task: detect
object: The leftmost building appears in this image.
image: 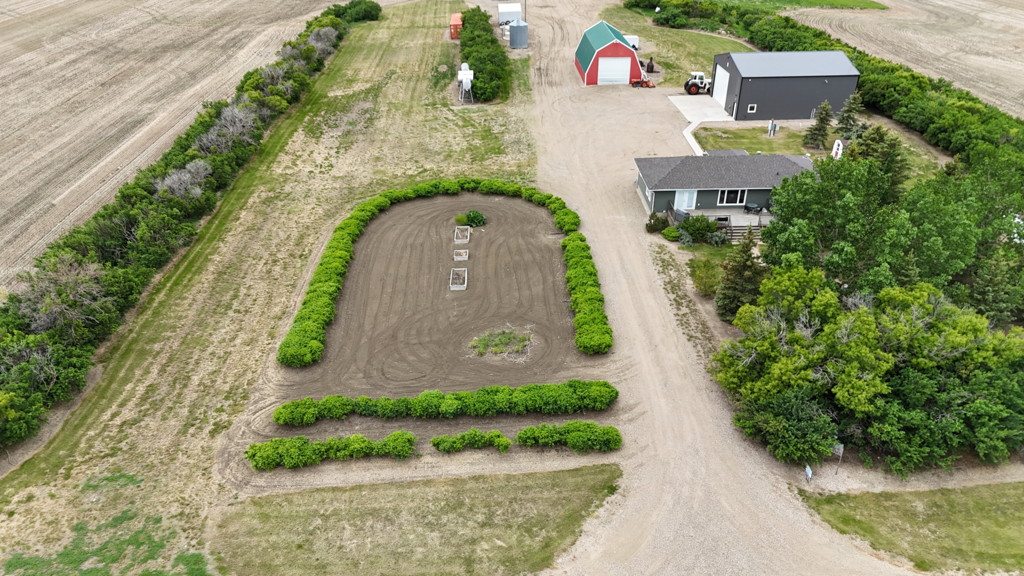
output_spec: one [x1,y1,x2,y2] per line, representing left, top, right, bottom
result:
[574,20,643,85]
